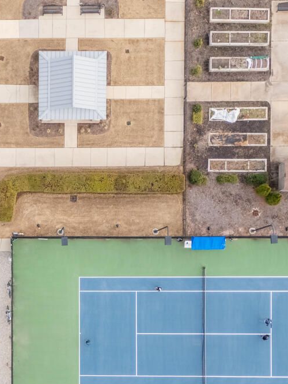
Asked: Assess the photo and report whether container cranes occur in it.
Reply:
No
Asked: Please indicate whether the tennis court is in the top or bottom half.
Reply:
bottom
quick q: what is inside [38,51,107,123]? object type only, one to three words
building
